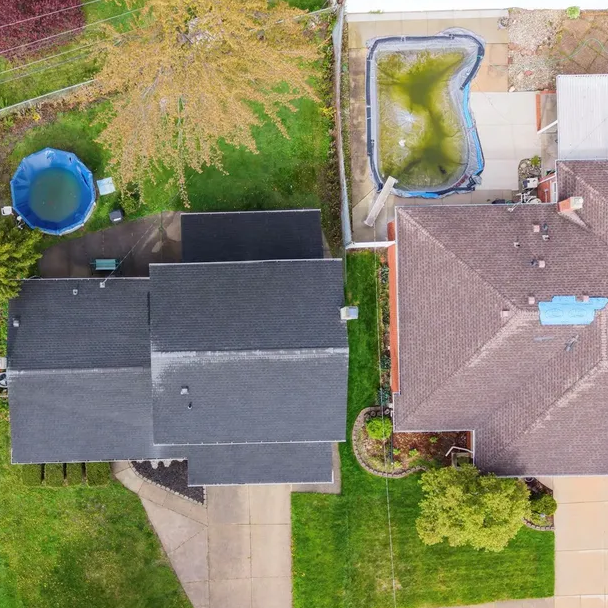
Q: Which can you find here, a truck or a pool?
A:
pool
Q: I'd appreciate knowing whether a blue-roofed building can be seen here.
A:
No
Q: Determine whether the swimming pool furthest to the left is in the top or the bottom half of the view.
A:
top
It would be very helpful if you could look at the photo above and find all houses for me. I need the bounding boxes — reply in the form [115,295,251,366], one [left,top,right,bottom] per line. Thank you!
[8,208,358,486]
[383,72,608,477]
